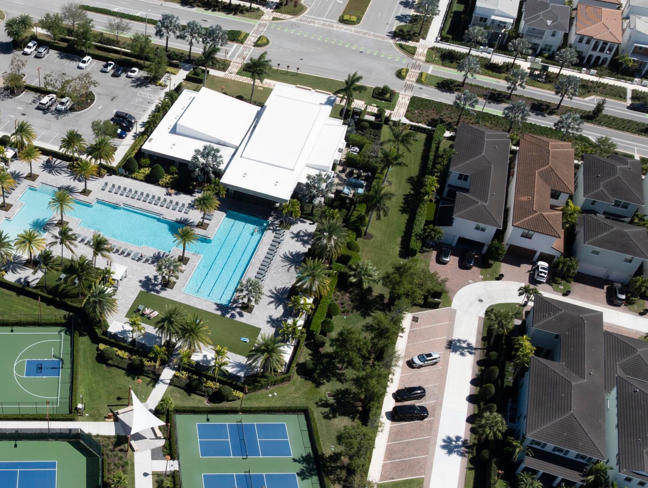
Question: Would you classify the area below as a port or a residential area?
residential area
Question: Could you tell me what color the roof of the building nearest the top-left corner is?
white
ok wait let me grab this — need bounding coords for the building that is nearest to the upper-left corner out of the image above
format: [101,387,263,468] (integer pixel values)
[141,84,347,223]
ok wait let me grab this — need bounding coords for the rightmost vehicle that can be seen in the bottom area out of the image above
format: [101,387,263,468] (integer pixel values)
[609,282,628,306]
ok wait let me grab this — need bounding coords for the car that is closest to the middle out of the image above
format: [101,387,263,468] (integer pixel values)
[438,243,454,264]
